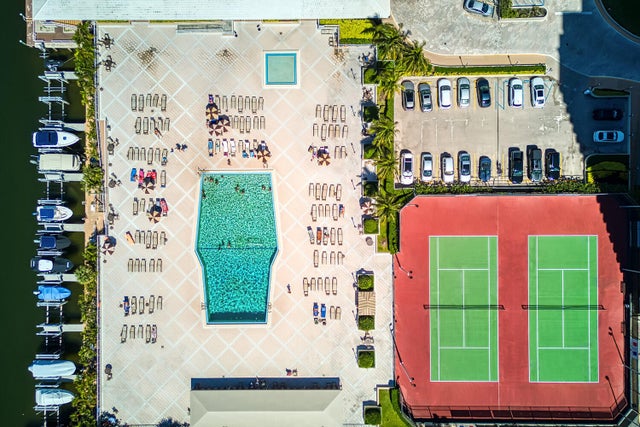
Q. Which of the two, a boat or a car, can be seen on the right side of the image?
car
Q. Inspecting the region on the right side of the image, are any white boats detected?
No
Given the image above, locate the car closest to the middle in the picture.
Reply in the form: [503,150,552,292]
[400,153,414,183]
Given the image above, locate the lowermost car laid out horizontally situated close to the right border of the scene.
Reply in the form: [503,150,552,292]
[592,129,622,143]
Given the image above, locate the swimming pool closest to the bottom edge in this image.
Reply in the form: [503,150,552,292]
[188,166,284,329]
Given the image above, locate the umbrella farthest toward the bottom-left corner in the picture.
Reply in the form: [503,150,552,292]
[101,243,116,257]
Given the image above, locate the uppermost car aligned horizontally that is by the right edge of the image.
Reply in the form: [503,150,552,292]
[591,106,622,121]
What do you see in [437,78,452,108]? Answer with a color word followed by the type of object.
white car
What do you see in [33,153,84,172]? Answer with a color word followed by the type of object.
white boat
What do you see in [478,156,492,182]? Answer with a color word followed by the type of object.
blue vehicle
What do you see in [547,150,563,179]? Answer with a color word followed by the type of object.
black car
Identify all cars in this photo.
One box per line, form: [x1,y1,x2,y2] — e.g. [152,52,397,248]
[456,78,471,108]
[400,153,414,183]
[476,78,491,108]
[478,156,492,182]
[420,153,434,183]
[437,78,452,108]
[441,154,456,184]
[464,0,494,18]
[401,81,415,111]
[591,106,622,121]
[418,83,432,113]
[458,153,472,183]
[528,78,545,108]
[509,153,525,182]
[508,78,523,108]
[592,129,622,143]
[547,150,563,179]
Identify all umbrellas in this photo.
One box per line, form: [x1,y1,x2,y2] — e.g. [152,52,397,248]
[140,180,154,194]
[148,210,162,225]
[205,106,219,119]
[218,118,231,133]
[101,243,116,257]
[256,149,271,163]
[317,154,332,168]
[207,121,220,135]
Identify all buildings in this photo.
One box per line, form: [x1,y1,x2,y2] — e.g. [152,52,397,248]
[31,0,390,19]
[190,388,342,427]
